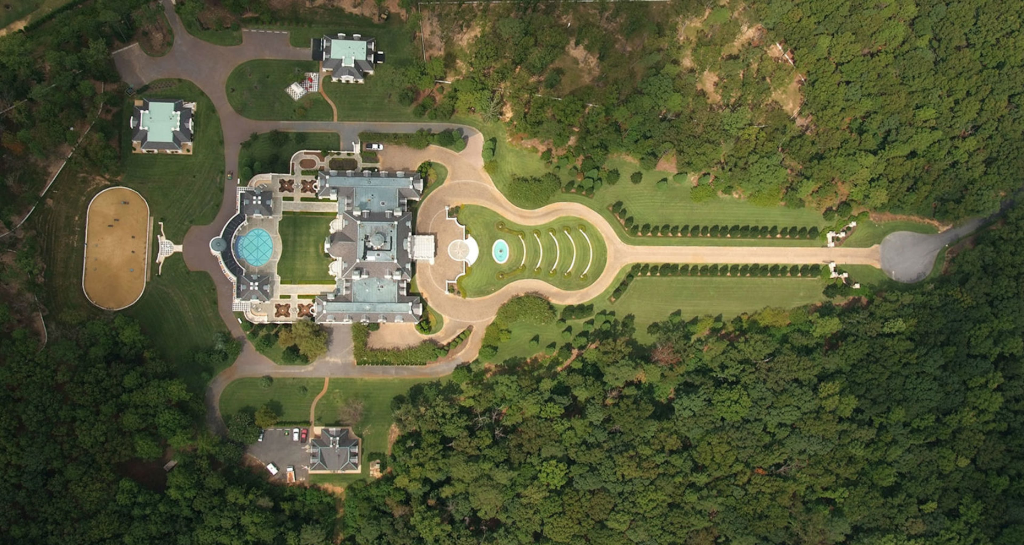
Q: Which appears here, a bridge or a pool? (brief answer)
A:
pool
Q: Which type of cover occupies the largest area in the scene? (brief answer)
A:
trees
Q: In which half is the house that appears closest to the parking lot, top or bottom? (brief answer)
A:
bottom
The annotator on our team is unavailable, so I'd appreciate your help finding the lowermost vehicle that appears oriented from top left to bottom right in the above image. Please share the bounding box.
[266,461,279,477]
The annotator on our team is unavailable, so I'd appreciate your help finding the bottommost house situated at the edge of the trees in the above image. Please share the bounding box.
[308,427,362,475]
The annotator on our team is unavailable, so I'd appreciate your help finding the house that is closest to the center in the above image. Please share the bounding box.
[309,171,436,325]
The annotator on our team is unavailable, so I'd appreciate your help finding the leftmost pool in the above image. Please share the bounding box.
[235,227,273,267]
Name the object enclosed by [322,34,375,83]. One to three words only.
house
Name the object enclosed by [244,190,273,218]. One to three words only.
building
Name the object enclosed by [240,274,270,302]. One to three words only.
building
